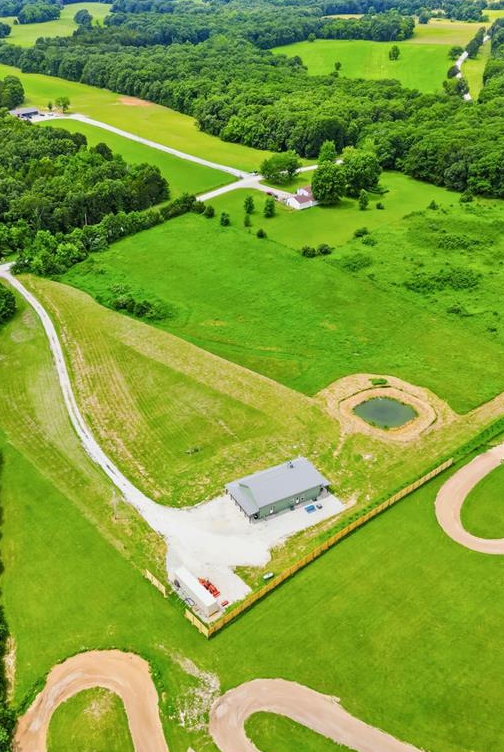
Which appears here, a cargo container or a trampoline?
cargo container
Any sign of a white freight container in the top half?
No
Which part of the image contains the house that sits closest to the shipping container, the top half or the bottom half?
bottom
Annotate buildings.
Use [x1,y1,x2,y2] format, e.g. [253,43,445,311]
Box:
[286,187,314,210]
[6,106,39,118]
[224,458,330,524]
